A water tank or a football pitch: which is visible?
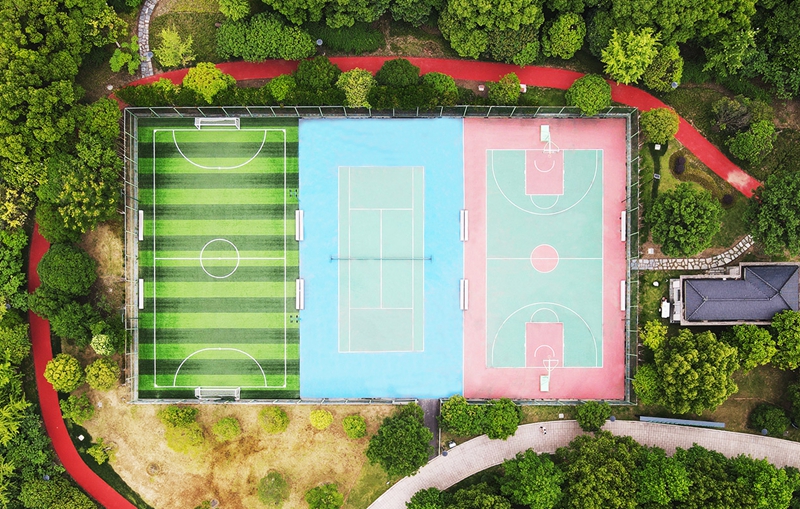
football pitch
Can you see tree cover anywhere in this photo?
Yes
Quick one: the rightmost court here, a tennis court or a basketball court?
basketball court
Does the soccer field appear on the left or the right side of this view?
left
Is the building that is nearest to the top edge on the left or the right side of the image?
right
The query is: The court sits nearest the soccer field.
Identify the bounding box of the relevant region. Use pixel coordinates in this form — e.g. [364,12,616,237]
[299,118,463,399]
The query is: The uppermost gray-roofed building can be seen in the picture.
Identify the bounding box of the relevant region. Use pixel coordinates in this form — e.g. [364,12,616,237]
[667,263,800,324]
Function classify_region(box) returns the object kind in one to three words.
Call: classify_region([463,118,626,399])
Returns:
basketball court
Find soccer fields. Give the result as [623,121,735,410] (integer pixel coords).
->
[138,118,299,399]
